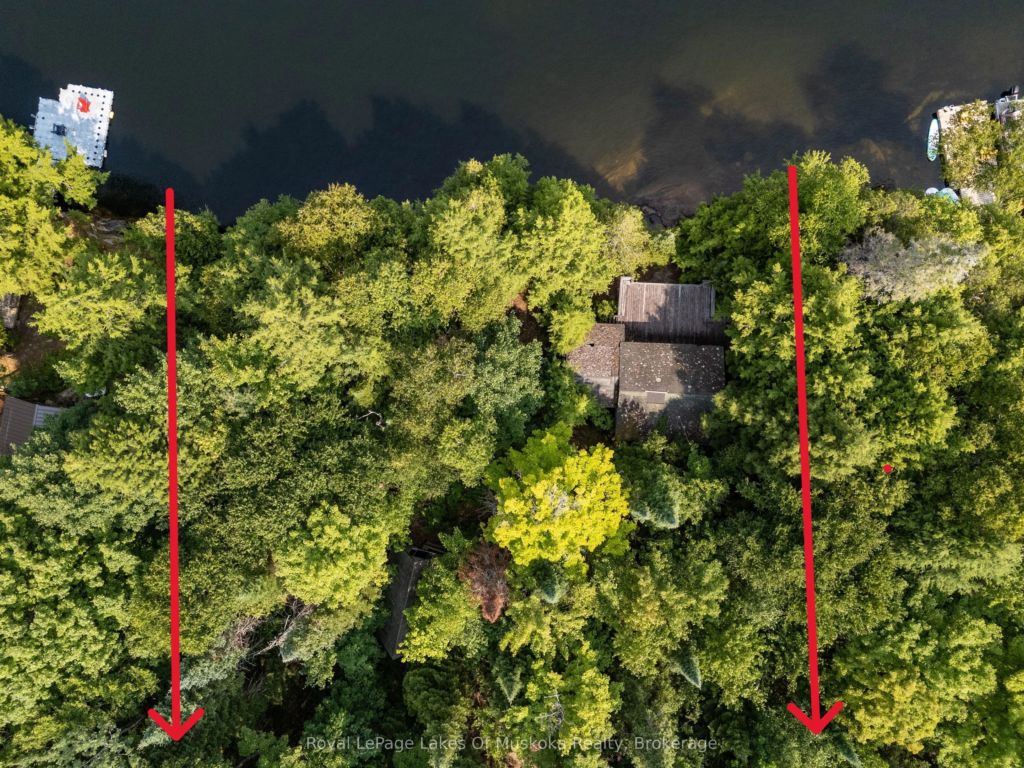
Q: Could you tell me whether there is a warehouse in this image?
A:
No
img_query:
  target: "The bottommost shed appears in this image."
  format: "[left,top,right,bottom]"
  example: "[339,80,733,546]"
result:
[375,526,443,660]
